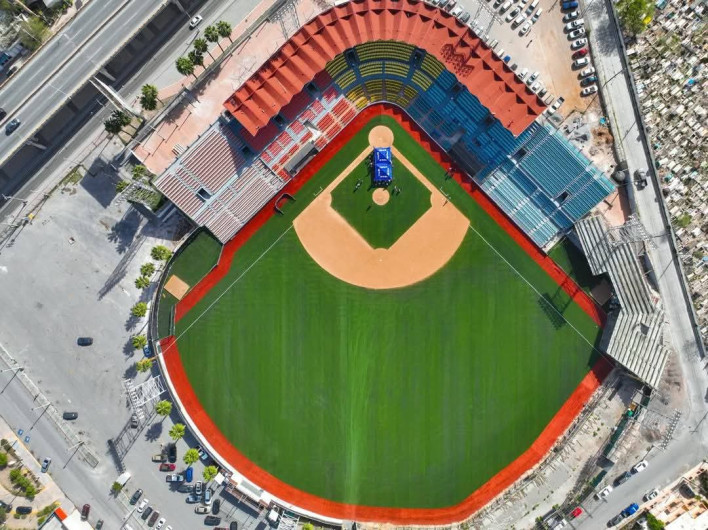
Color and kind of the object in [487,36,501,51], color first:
white vehicle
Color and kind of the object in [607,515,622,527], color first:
gray vehicle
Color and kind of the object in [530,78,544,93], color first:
white vehicle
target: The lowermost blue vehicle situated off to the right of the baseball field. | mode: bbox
[621,503,639,518]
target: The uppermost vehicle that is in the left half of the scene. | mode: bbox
[187,15,202,28]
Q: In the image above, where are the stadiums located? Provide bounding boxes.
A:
[152,0,624,252]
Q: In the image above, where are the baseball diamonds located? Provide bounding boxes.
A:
[156,102,615,524]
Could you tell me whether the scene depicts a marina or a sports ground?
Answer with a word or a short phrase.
sports ground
